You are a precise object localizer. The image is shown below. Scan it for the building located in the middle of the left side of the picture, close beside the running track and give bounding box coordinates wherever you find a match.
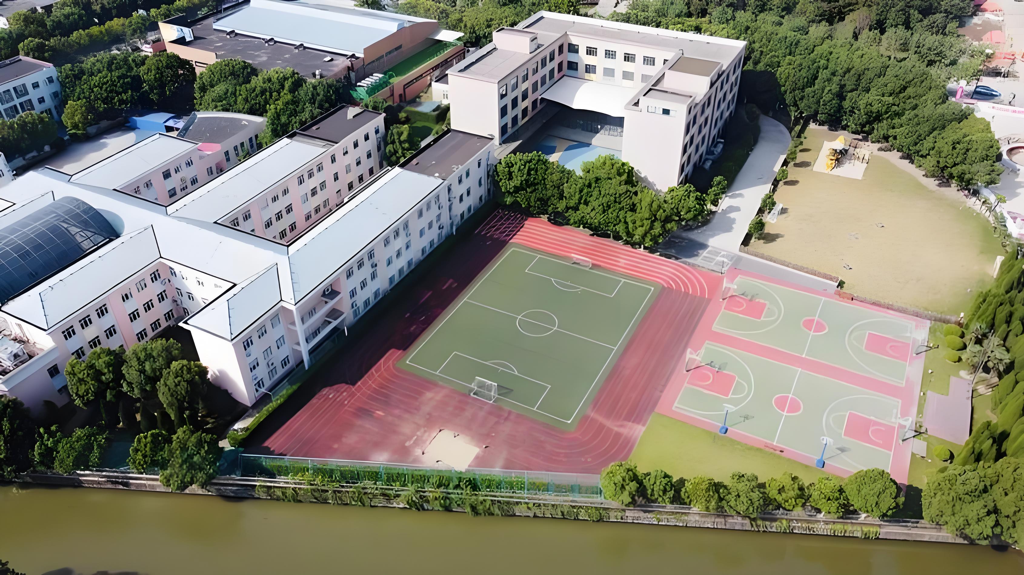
[0,101,495,423]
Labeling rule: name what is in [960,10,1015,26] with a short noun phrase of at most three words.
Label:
building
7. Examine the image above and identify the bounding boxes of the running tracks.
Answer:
[233,207,728,490]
